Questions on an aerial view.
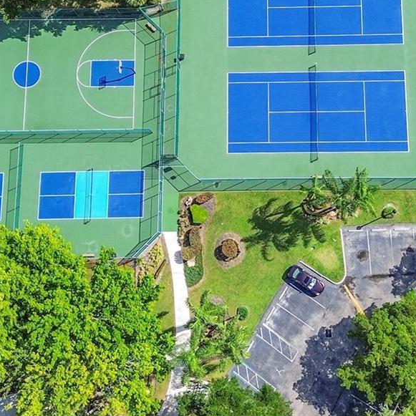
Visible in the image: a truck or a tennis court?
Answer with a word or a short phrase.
tennis court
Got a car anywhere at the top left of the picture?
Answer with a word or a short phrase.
No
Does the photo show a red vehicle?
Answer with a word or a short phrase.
No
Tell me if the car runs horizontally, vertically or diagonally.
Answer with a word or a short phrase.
diagonally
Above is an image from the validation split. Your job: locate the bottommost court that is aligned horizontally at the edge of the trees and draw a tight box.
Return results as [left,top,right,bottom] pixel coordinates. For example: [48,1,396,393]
[38,170,143,219]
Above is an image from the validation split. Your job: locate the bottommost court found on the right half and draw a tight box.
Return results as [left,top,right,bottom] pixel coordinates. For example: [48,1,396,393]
[226,69,409,153]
